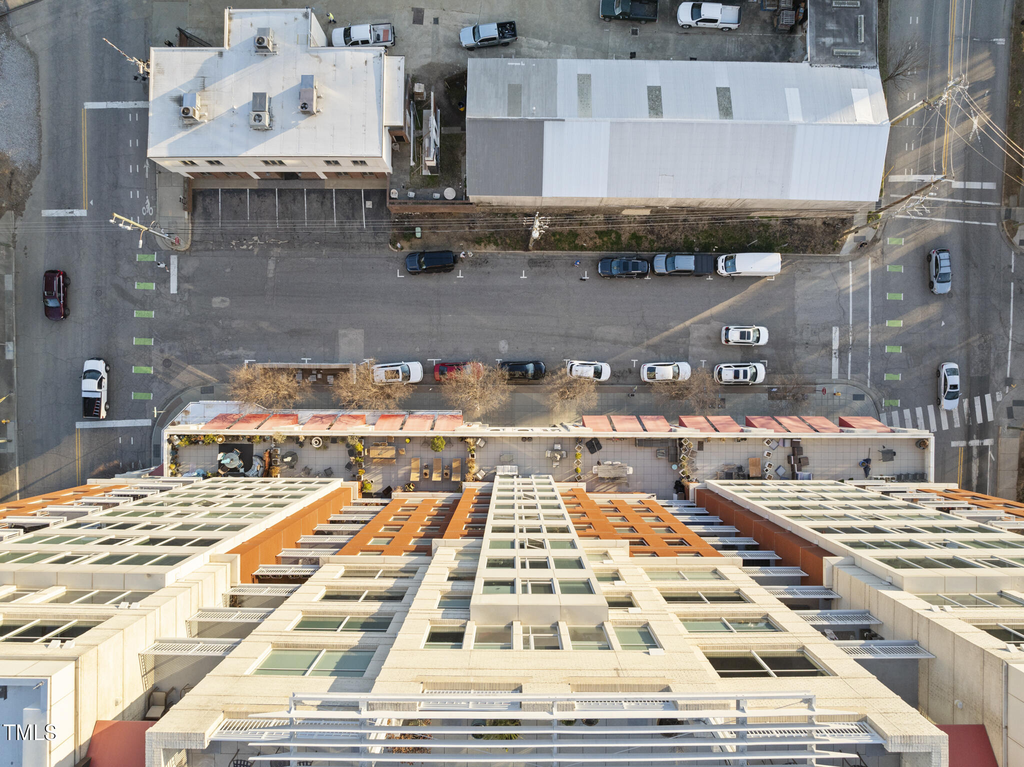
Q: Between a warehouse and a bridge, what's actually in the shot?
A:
warehouse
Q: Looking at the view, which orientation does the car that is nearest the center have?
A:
from side to side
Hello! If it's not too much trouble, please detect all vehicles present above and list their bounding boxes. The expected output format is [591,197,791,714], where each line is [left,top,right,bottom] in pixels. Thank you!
[333,22,395,50]
[716,251,785,276]
[640,361,690,382]
[719,324,767,346]
[373,361,424,384]
[500,360,546,382]
[933,361,960,410]
[42,269,72,321]
[599,0,658,23]
[652,253,714,277]
[81,357,111,419]
[712,361,765,385]
[433,360,484,383]
[407,250,458,273]
[926,249,953,295]
[566,361,611,381]
[676,1,742,32]
[597,255,650,280]
[459,22,518,52]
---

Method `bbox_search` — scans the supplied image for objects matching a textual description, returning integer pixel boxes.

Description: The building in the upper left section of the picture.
[146,5,413,180]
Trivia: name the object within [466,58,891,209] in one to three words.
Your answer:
warehouse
